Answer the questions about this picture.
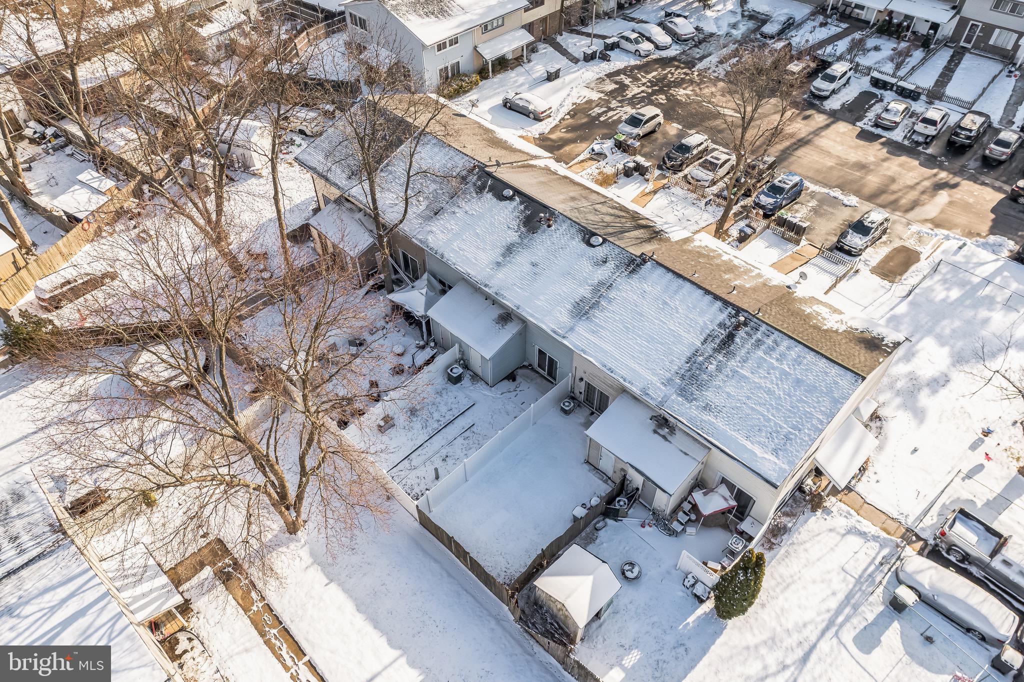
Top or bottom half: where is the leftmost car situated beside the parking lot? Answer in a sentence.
The top half of the photo is where the leftmost car situated beside the parking lot is.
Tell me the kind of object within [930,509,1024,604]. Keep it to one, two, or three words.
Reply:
truck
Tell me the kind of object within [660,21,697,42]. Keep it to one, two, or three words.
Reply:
car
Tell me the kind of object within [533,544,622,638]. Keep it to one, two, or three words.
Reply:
shed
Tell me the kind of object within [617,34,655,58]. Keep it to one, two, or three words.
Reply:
car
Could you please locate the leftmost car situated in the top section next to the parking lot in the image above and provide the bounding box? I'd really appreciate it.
[503,96,554,123]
